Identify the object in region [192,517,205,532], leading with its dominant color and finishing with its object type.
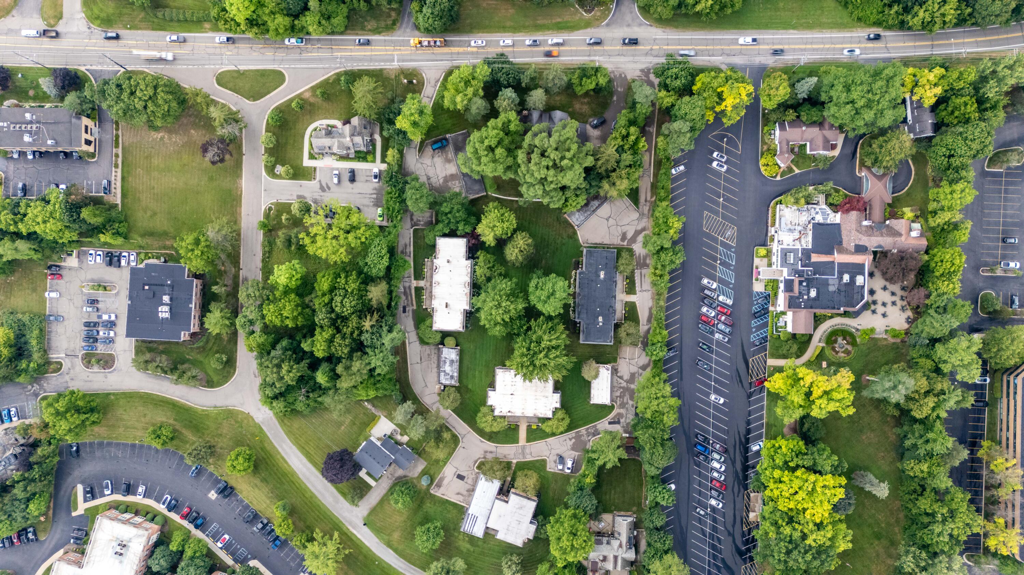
blue vehicle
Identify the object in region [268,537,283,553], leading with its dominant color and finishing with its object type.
blue vehicle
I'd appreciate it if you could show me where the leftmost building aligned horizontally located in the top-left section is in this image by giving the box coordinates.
[0,107,99,155]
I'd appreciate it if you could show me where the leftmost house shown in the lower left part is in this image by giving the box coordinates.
[0,425,32,470]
